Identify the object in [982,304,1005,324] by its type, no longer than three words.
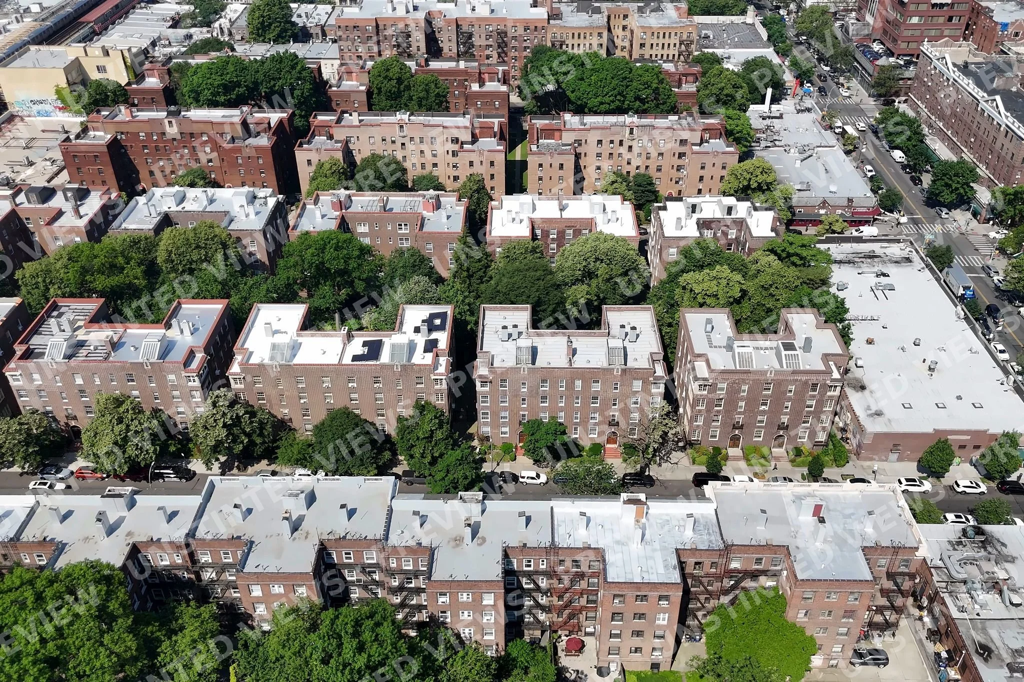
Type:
car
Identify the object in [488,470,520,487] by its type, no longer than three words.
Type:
car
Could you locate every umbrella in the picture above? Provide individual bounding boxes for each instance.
[562,633,587,658]
[595,662,615,682]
